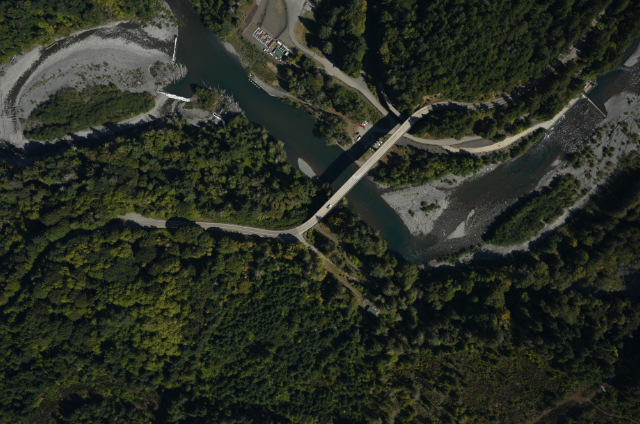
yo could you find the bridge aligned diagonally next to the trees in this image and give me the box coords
[315,114,418,218]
